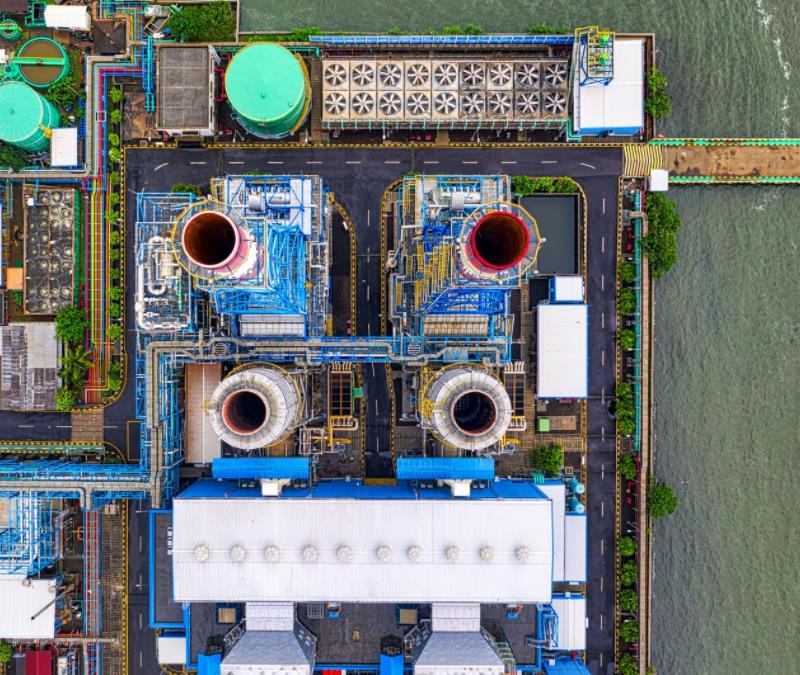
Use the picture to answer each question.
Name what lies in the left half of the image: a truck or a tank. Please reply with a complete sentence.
Visible in the left half of the image is a tank.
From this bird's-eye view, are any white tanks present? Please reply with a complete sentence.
No, the photo shows no white tank.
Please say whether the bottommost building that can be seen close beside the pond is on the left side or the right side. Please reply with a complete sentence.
The bottommost building that can be seen close beside the pond is on the right side of the image.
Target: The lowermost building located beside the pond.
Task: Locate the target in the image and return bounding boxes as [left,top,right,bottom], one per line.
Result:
[531,305,589,398]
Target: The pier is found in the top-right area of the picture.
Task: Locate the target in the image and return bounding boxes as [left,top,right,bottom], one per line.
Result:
[648,138,800,184]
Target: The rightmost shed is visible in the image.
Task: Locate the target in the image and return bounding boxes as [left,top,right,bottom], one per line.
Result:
[645,170,668,193]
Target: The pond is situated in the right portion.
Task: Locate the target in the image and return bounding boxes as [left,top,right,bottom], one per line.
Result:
[516,192,580,276]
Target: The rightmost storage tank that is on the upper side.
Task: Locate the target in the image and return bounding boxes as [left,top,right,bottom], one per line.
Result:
[225,41,316,145]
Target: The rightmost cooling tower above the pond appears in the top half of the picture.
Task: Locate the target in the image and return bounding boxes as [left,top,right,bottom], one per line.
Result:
[321,58,574,129]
